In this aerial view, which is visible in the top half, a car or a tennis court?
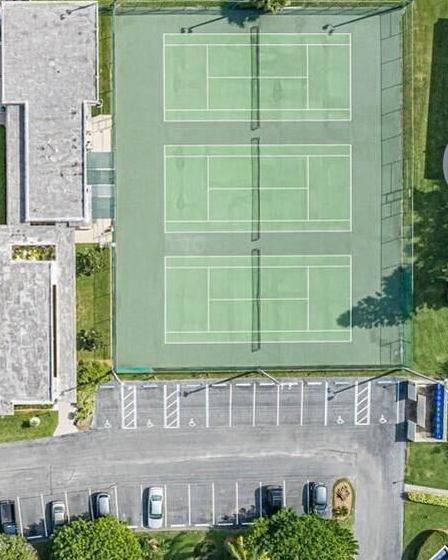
tennis court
